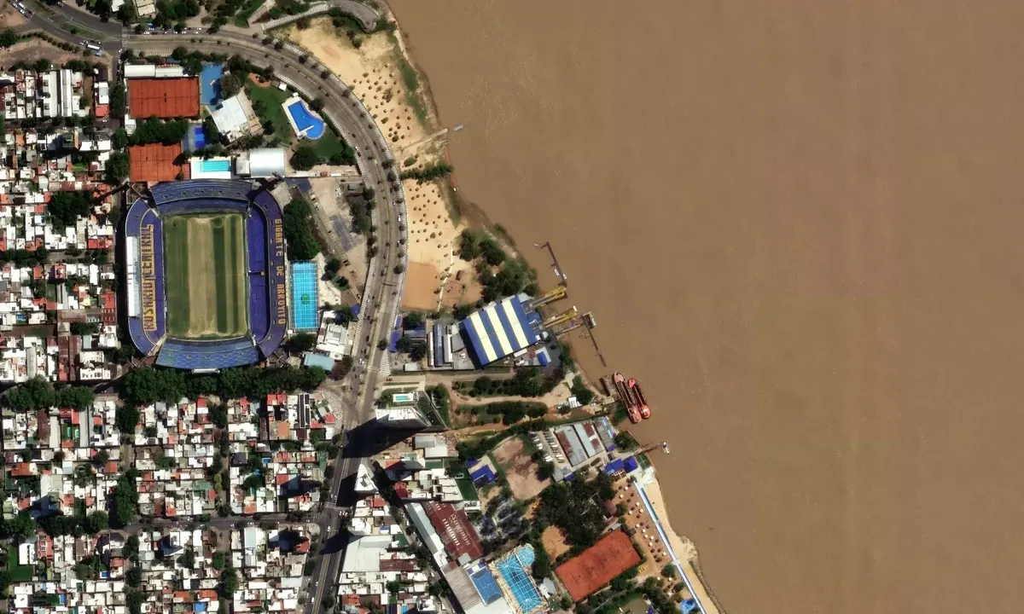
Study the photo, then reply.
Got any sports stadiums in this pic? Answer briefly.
Yes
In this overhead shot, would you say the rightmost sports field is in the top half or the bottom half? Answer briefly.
bottom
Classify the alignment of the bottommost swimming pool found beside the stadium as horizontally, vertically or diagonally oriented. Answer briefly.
vertically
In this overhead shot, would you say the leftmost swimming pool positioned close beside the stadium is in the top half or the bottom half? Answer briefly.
top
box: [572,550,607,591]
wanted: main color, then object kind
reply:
red tennis court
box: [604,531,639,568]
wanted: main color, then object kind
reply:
red tennis court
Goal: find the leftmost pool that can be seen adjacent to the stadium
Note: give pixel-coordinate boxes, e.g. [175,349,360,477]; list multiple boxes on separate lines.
[191,157,231,179]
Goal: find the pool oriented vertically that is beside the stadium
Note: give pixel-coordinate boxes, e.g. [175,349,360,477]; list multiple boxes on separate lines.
[290,261,320,330]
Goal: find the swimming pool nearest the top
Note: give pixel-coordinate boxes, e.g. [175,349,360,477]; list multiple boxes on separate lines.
[282,95,329,141]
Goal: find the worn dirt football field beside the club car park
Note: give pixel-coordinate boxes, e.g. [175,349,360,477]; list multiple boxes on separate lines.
[495,438,547,500]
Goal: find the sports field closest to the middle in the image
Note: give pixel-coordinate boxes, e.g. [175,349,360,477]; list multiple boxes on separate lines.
[402,263,440,308]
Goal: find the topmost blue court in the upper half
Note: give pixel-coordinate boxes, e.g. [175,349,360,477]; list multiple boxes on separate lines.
[201,63,222,105]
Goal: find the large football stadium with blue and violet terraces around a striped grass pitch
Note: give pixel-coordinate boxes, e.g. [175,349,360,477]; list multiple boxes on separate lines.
[118,168,290,374]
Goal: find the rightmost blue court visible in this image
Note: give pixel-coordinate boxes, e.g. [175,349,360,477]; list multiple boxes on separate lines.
[472,566,503,606]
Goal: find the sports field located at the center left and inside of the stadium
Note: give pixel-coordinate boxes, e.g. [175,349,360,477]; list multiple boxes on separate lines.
[161,211,251,342]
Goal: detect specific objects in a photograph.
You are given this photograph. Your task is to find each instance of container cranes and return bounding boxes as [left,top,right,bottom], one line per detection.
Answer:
[531,286,567,308]
[542,309,577,331]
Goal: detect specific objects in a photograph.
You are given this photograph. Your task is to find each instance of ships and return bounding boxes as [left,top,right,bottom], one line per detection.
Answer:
[629,379,650,419]
[614,371,639,424]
